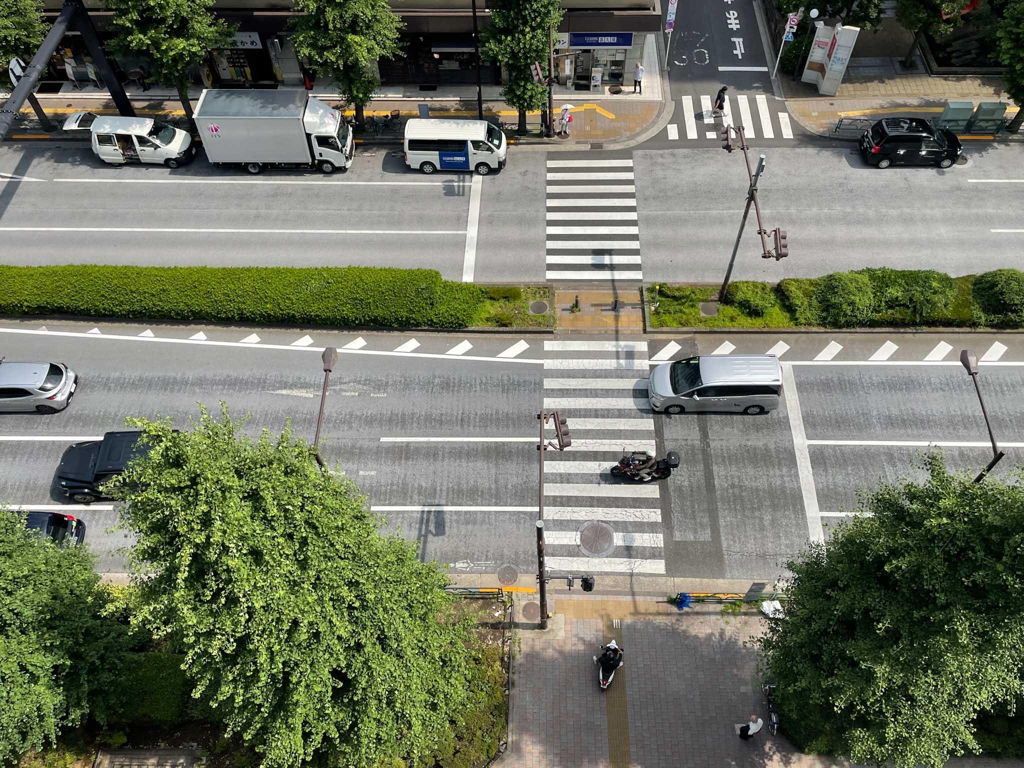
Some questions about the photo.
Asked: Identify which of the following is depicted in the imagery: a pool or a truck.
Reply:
truck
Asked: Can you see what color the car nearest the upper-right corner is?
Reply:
black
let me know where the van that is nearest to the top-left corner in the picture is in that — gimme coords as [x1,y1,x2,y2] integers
[64,109,198,167]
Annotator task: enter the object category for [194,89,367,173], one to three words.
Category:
truck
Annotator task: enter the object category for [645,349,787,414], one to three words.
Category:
car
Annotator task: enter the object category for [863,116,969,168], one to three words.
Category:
car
